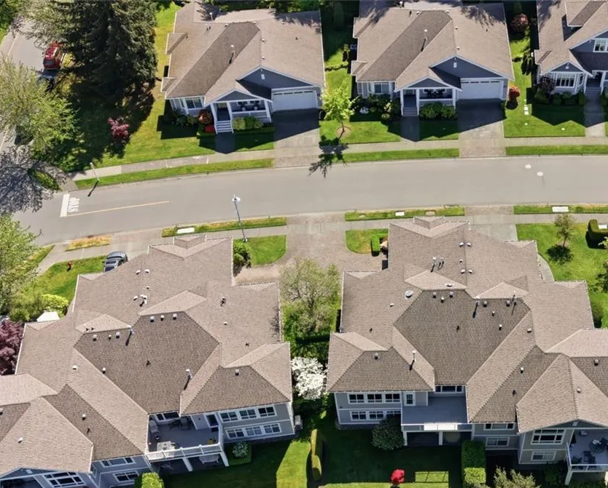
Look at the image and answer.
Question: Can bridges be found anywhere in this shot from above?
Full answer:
No, there appears to be no bridge in this shot.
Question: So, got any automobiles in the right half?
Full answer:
No, I can find no automobile in the right half.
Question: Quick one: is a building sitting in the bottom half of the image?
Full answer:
Yes, a building shows up in the bottom half of the image.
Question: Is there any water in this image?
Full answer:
No, there's no water in this view.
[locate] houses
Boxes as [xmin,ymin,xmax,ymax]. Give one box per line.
[323,216,608,479]
[534,0,608,98]
[0,234,294,488]
[159,0,328,130]
[350,0,515,116]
